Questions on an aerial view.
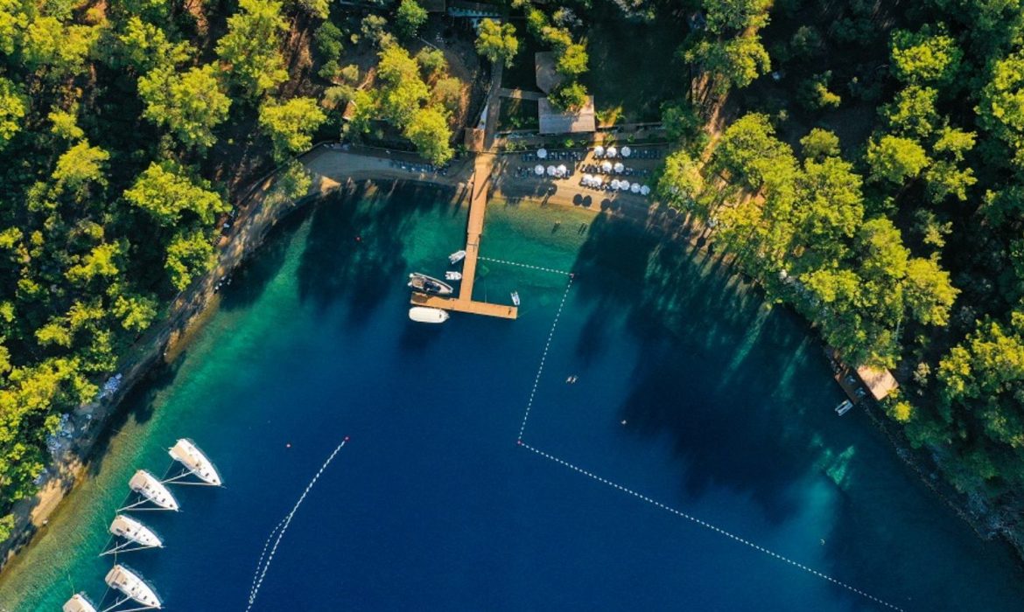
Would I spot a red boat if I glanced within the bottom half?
No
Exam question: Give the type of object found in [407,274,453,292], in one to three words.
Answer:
boat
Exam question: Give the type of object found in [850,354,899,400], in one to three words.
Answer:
shed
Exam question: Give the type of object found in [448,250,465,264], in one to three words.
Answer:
boat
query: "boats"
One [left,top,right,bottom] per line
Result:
[510,290,519,304]
[444,271,462,280]
[407,274,453,292]
[93,515,168,555]
[156,429,219,487]
[448,250,465,264]
[99,566,159,612]
[112,457,185,516]
[59,594,98,612]
[409,306,451,321]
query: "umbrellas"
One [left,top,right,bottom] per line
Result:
[546,165,556,175]
[607,147,617,157]
[536,148,547,158]
[592,176,602,186]
[630,183,640,193]
[534,164,545,175]
[593,146,604,156]
[614,163,624,173]
[620,147,631,157]
[602,161,612,171]
[556,165,566,175]
[582,174,592,184]
[620,180,630,190]
[639,185,650,195]
[611,179,620,189]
